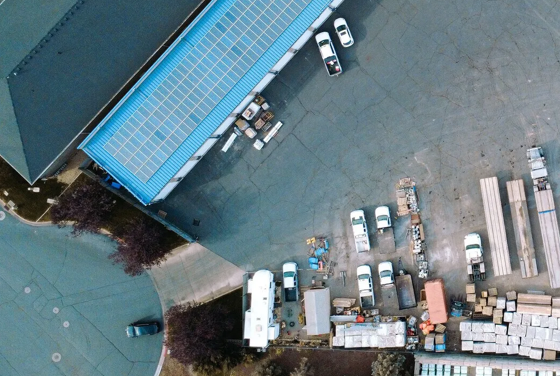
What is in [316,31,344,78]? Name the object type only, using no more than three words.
truck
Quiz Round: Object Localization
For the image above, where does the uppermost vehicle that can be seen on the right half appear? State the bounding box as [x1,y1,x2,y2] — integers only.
[334,18,354,48]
